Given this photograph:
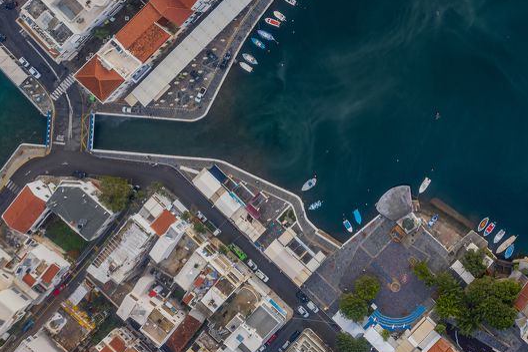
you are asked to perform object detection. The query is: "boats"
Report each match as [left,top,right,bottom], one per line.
[495,238,515,255]
[354,208,362,225]
[258,30,276,42]
[242,53,260,66]
[239,62,255,74]
[504,243,513,258]
[274,12,287,22]
[427,214,438,228]
[302,176,318,191]
[285,0,298,8]
[483,222,495,237]
[265,18,282,28]
[252,38,266,51]
[477,217,489,232]
[419,176,431,194]
[309,198,323,209]
[342,218,352,232]
[492,229,505,243]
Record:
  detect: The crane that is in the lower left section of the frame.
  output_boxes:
[58,298,98,330]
